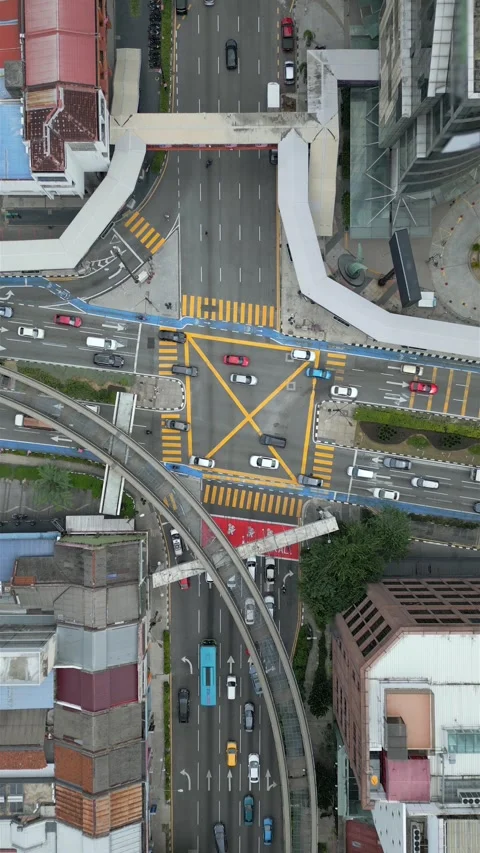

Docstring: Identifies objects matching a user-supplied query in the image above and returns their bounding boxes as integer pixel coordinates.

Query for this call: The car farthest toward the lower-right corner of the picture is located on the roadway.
[262,817,274,844]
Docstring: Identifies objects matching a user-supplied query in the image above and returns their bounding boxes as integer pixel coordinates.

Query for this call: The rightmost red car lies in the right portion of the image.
[408,381,438,394]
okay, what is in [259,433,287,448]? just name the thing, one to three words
car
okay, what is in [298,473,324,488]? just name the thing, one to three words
car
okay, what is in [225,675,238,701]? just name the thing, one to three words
vehicle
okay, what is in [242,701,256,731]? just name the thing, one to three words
vehicle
